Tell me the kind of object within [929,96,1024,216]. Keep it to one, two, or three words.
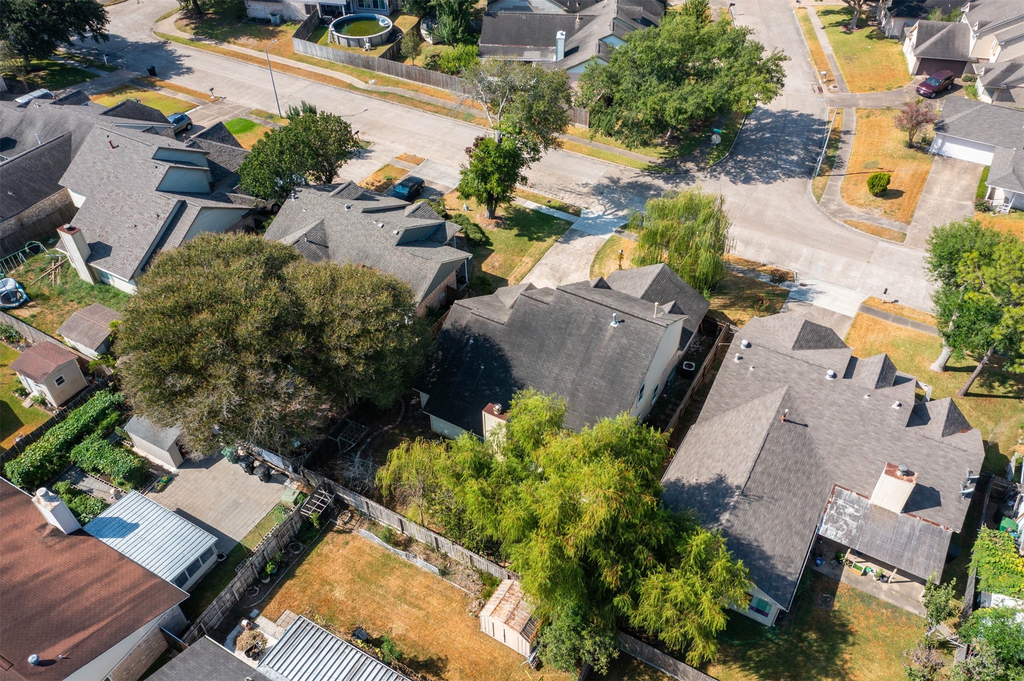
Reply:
house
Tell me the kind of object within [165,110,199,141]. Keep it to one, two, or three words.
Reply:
car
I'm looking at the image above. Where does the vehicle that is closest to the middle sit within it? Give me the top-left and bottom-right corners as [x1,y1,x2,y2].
[384,173,432,201]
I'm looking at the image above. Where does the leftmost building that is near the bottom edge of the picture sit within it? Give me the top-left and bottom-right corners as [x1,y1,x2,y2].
[0,473,230,681]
